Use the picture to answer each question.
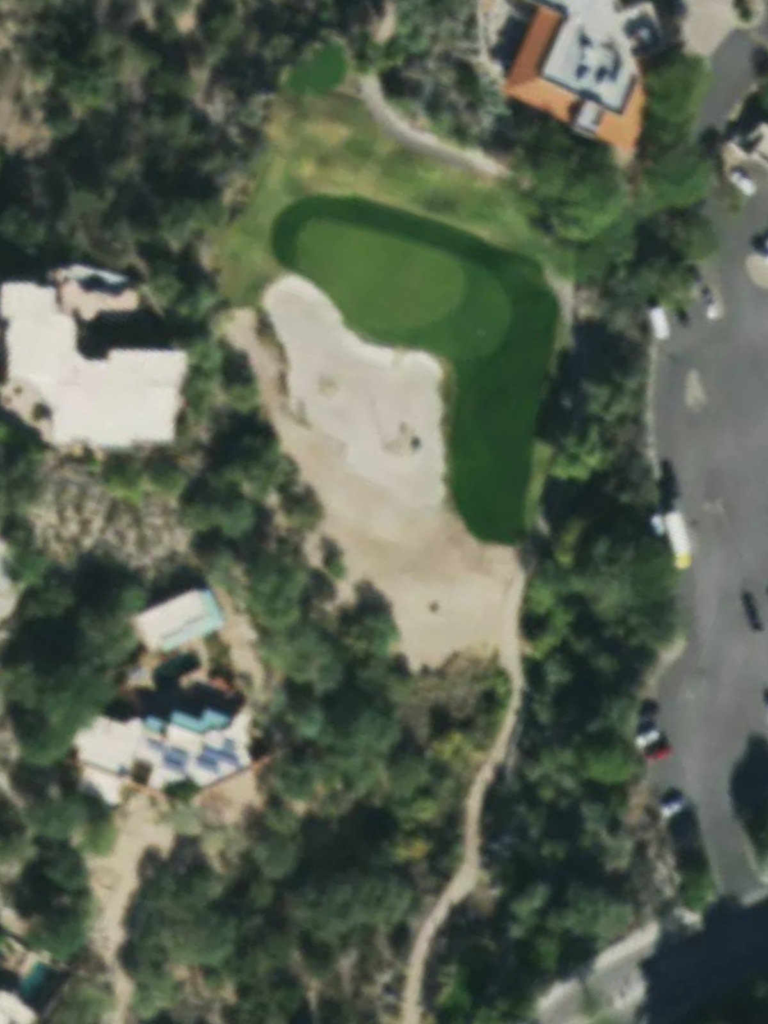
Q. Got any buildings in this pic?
Yes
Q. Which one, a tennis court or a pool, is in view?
pool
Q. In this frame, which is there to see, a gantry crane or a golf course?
golf course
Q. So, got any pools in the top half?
No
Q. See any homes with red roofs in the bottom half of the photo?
No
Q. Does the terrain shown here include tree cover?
Yes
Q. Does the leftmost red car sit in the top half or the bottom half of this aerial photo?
bottom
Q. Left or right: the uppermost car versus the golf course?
right of it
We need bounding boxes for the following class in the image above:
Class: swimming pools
[18,959,72,1021]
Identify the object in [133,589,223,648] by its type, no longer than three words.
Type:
shed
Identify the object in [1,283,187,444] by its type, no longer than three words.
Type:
house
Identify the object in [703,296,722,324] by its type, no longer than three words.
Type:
car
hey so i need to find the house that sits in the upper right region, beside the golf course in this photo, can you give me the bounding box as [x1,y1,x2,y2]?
[506,0,646,147]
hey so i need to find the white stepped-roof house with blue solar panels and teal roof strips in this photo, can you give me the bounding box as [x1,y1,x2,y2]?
[75,707,254,805]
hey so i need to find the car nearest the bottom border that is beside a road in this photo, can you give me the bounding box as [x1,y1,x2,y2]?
[659,797,686,818]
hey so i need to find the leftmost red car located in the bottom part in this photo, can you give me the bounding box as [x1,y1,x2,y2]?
[644,743,673,764]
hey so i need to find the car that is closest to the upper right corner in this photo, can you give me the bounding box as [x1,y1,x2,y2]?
[729,169,757,196]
